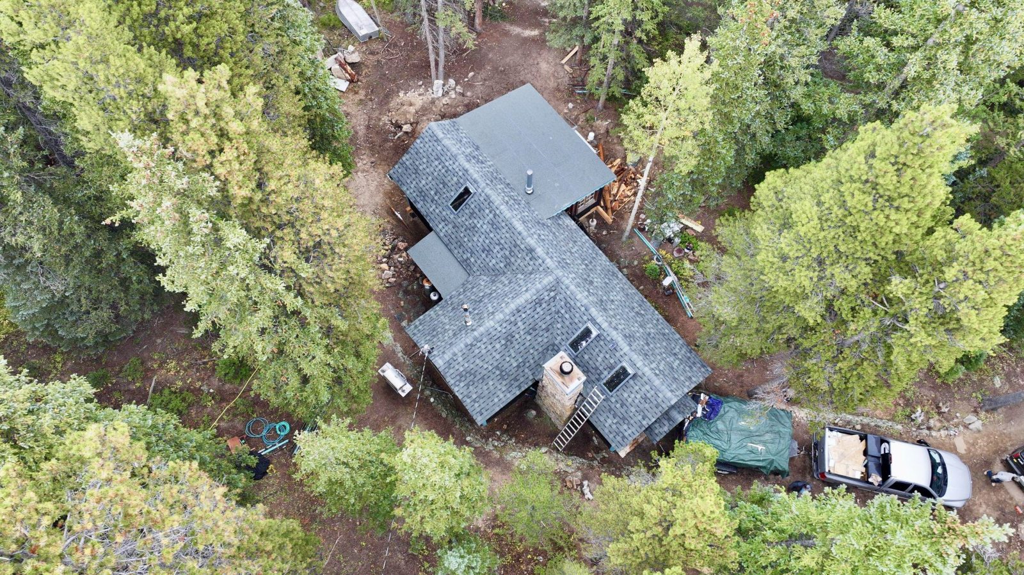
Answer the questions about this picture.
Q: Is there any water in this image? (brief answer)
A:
No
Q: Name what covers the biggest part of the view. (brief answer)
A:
trees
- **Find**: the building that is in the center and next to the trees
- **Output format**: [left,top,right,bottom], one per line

[387,84,712,454]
